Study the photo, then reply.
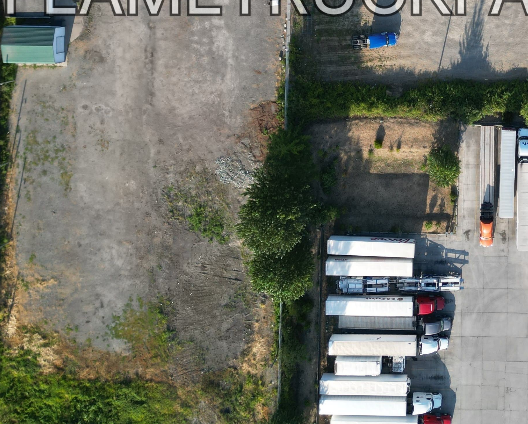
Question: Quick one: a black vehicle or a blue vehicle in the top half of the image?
blue vehicle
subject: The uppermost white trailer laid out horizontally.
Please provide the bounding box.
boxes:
[327,234,415,257]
